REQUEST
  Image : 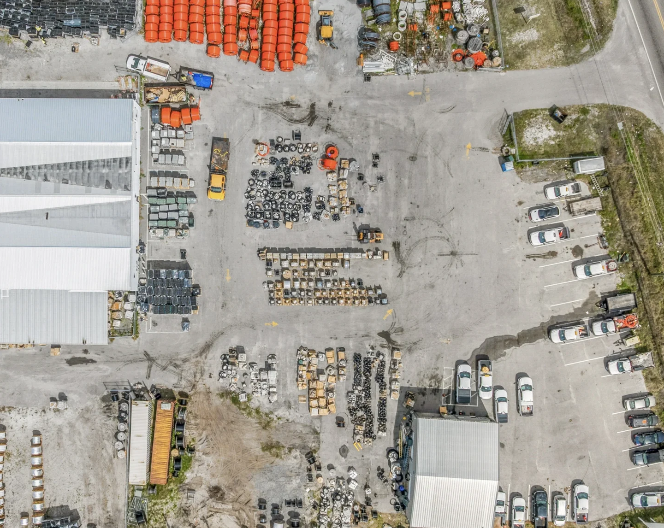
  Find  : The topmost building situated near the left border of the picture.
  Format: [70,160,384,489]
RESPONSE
[0,97,139,292]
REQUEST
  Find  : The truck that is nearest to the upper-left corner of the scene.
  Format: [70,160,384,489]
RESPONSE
[127,56,172,83]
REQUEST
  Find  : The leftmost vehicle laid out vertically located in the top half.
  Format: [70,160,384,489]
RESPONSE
[207,138,229,202]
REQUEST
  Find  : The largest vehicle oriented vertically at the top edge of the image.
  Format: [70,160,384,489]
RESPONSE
[317,8,337,56]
